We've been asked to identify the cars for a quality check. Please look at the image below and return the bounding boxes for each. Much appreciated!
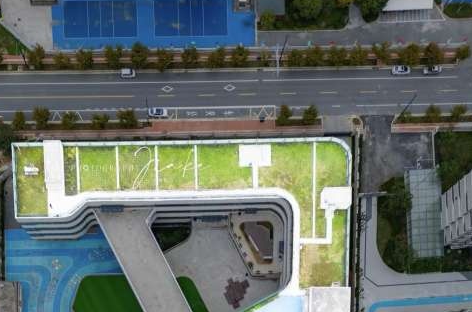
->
[149,109,166,117]
[120,69,137,78]
[392,66,409,75]
[422,66,440,75]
